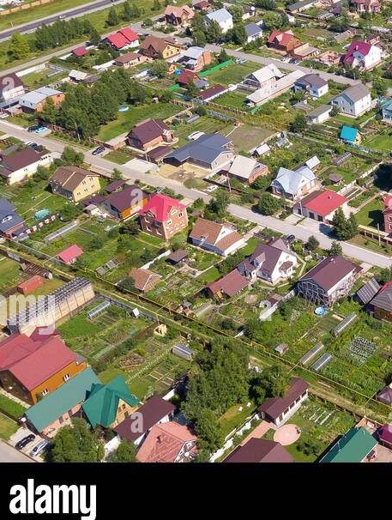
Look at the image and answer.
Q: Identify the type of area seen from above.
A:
residential area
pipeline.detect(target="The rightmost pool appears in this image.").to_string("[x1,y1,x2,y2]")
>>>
[311,307,330,320]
